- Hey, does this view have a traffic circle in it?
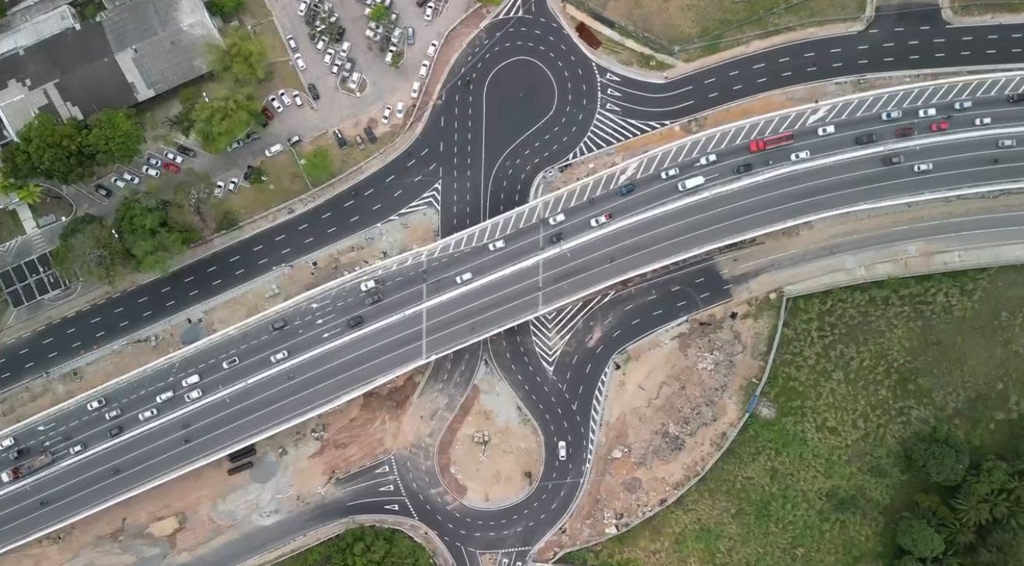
Yes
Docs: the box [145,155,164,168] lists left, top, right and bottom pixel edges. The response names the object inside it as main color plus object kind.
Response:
gray vehicle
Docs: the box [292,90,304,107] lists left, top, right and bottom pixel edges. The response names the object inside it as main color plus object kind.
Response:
white vehicle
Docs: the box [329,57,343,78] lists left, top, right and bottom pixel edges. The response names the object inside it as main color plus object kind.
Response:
white car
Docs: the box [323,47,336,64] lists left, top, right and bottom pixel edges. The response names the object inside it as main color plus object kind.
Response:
white vehicle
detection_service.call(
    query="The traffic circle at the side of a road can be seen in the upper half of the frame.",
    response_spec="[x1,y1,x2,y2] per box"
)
[411,0,601,241]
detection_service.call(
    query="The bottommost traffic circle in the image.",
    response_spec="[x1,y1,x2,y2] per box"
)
[392,257,732,566]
